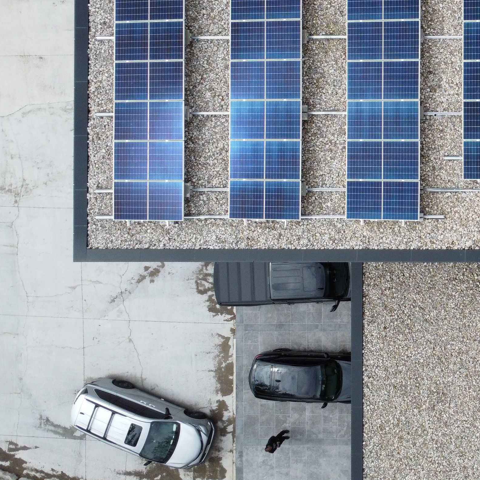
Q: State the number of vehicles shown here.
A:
3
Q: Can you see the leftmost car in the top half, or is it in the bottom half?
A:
bottom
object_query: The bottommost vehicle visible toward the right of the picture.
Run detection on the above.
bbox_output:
[248,347,351,414]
